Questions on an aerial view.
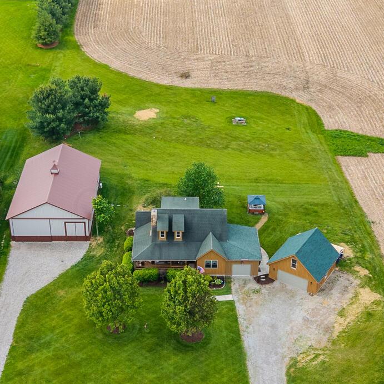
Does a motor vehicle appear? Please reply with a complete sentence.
No, the picture doesn't show any motor vehicle.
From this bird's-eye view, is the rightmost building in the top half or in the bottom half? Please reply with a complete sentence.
Seen from above, the rightmost building lies in the bottom half of the view.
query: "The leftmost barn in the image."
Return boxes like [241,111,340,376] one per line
[4,144,102,242]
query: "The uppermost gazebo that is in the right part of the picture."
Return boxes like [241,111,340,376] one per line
[246,193,268,217]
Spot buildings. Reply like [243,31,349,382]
[4,144,102,242]
[266,228,341,294]
[131,196,264,278]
